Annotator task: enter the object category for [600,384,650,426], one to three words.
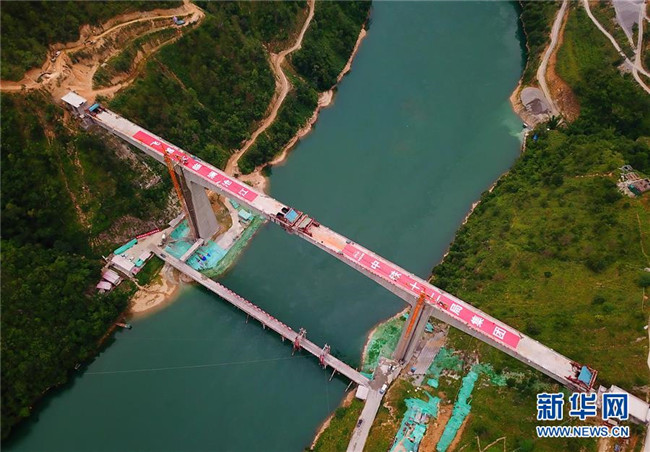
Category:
building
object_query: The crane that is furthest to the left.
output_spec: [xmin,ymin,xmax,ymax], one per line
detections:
[157,141,192,242]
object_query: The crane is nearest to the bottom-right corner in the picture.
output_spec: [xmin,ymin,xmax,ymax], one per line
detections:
[395,280,426,368]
